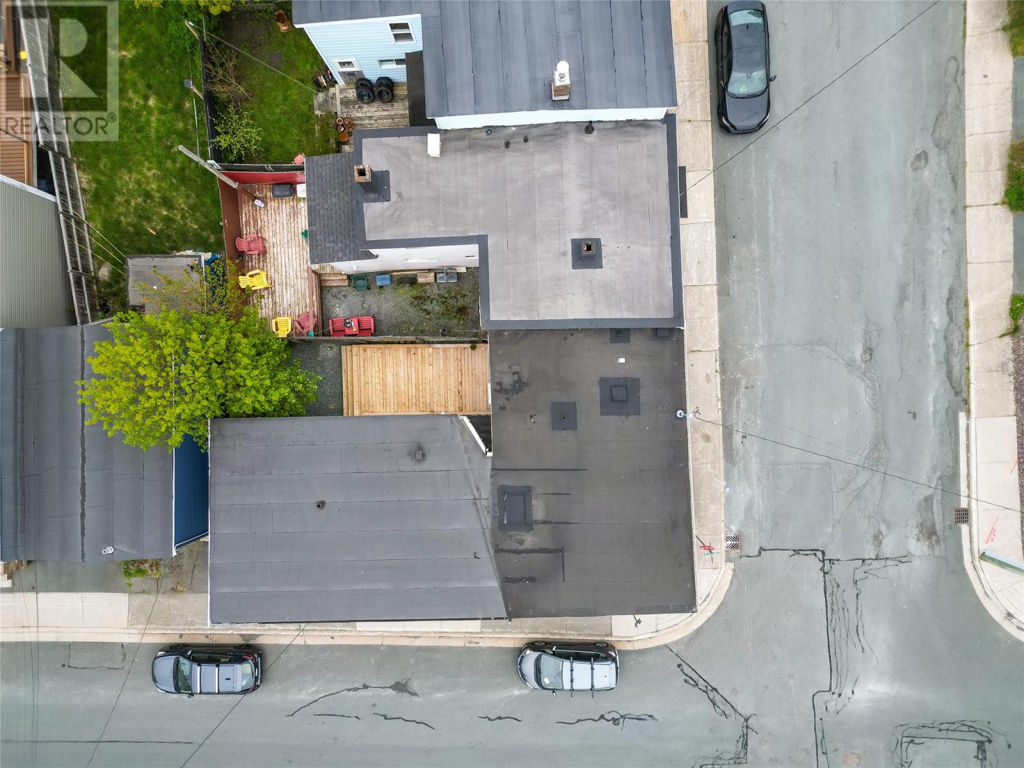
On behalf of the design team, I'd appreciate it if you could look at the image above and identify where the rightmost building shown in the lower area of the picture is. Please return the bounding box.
[484,328,700,619]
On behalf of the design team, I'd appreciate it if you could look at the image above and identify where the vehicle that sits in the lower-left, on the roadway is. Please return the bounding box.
[151,645,263,701]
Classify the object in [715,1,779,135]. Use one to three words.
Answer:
car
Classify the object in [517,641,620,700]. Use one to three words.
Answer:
car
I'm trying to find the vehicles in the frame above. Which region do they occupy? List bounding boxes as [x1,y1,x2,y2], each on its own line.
[715,1,779,135]
[517,641,620,700]
[151,645,263,701]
